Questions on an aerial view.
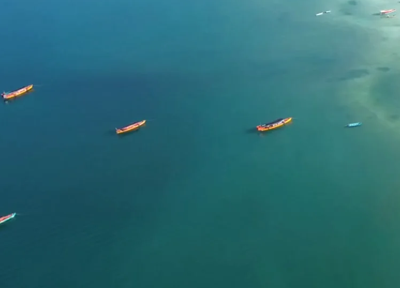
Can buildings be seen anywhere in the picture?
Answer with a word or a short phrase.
No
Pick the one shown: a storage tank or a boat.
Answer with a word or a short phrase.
boat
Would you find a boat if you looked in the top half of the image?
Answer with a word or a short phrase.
Yes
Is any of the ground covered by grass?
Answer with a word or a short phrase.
No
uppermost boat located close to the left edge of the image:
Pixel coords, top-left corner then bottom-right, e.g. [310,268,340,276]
[1,83,33,99]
